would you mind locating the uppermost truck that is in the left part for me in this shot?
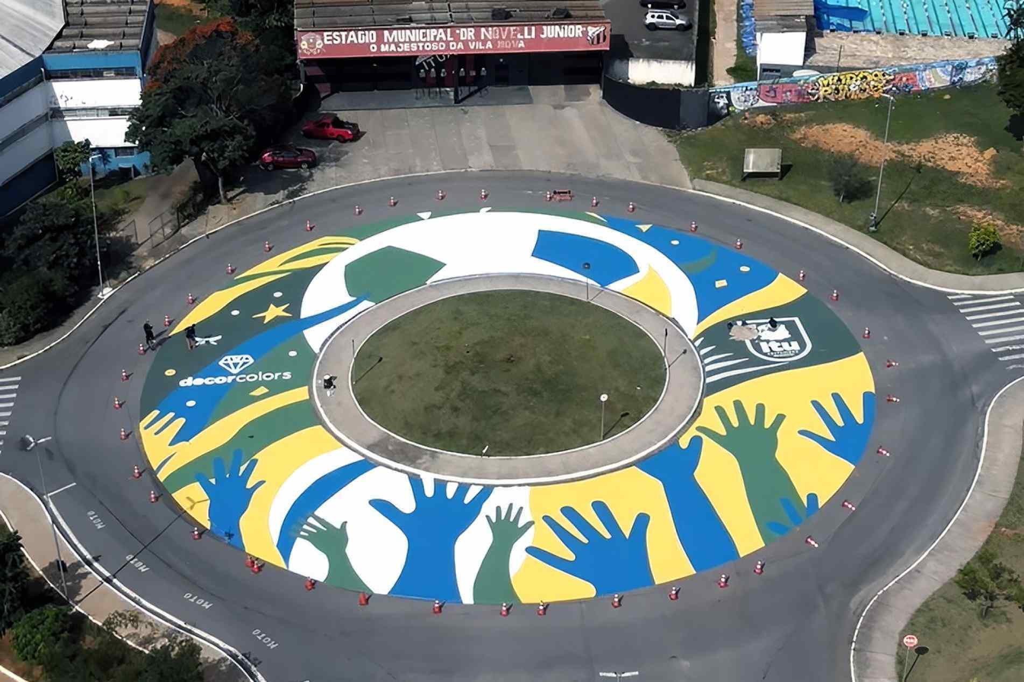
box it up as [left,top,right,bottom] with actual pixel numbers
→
[302,114,358,140]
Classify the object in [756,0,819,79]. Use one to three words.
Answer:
shed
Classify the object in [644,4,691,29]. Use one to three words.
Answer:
car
